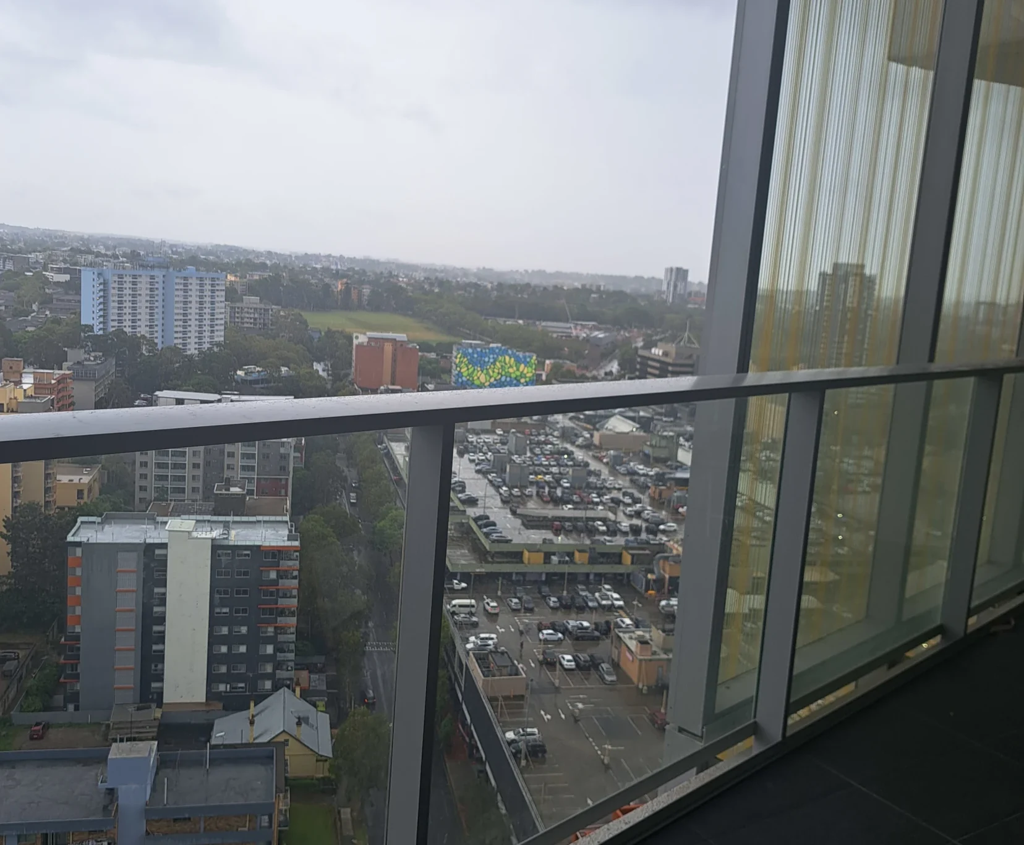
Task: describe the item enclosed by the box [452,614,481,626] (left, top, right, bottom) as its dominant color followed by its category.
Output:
gray vehicle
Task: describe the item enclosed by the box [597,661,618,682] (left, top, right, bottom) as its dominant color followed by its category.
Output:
gray car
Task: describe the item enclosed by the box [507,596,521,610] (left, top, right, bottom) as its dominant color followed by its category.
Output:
gray car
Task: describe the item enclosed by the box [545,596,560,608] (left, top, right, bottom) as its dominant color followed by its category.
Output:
gray vehicle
